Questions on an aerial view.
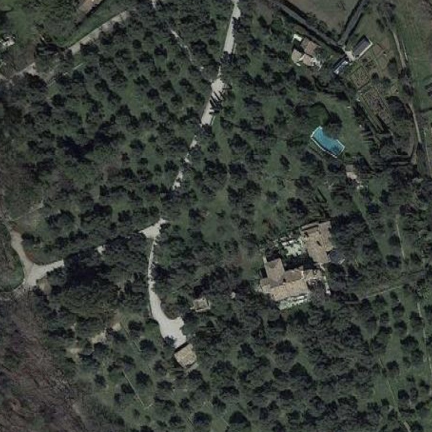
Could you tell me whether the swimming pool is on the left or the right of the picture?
right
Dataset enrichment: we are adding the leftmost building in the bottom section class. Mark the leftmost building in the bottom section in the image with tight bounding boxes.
[175,343,197,369]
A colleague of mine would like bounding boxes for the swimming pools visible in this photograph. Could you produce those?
[310,126,345,158]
